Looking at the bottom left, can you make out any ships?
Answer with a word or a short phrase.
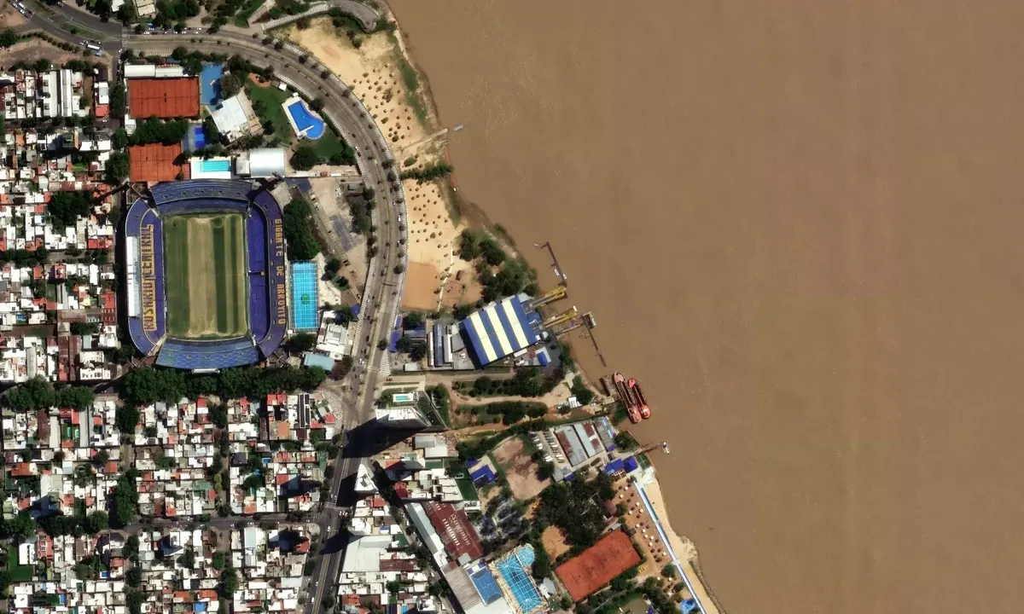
No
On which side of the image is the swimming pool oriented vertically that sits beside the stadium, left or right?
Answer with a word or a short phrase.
left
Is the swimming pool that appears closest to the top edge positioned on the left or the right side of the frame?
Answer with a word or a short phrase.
left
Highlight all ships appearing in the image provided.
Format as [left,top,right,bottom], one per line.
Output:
[614,371,639,424]
[629,379,650,419]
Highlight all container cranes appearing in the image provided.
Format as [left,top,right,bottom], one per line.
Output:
[531,286,567,308]
[542,309,577,331]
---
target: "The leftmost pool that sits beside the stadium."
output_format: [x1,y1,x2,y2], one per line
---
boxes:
[191,157,231,179]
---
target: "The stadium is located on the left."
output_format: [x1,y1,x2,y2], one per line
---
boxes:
[118,168,290,374]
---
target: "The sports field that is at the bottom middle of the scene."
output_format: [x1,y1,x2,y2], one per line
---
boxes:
[495,438,547,500]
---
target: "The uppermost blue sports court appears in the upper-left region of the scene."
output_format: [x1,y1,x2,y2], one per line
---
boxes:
[201,63,222,105]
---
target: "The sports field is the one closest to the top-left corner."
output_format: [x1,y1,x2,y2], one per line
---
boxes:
[161,211,251,342]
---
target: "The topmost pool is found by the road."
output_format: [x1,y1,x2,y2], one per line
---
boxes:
[282,95,329,141]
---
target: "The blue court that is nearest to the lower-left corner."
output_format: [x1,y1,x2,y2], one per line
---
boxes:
[472,566,503,606]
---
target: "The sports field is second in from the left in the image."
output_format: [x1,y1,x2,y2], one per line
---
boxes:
[402,263,440,308]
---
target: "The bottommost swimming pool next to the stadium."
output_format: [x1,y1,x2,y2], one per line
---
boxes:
[290,261,320,330]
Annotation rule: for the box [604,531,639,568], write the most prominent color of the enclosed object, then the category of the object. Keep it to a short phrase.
red tennis court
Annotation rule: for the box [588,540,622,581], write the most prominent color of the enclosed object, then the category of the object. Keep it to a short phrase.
red tennis court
